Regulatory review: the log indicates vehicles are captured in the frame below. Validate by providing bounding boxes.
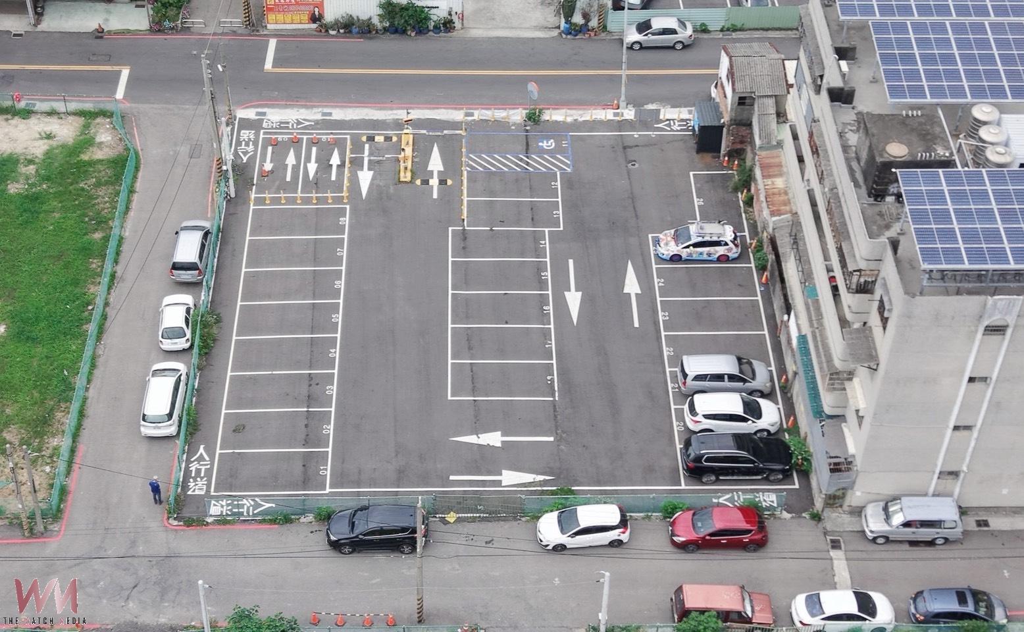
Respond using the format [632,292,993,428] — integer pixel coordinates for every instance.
[155,290,199,352]
[685,390,781,438]
[683,429,793,483]
[669,504,770,553]
[670,583,776,632]
[653,221,742,261]
[906,586,1015,632]
[137,361,188,438]
[622,16,696,50]
[326,505,429,557]
[170,219,213,283]
[676,352,771,398]
[789,587,899,632]
[534,504,630,553]
[860,495,967,546]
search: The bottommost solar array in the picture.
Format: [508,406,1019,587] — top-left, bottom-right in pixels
[899,171,1024,295]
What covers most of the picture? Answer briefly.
paved ground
